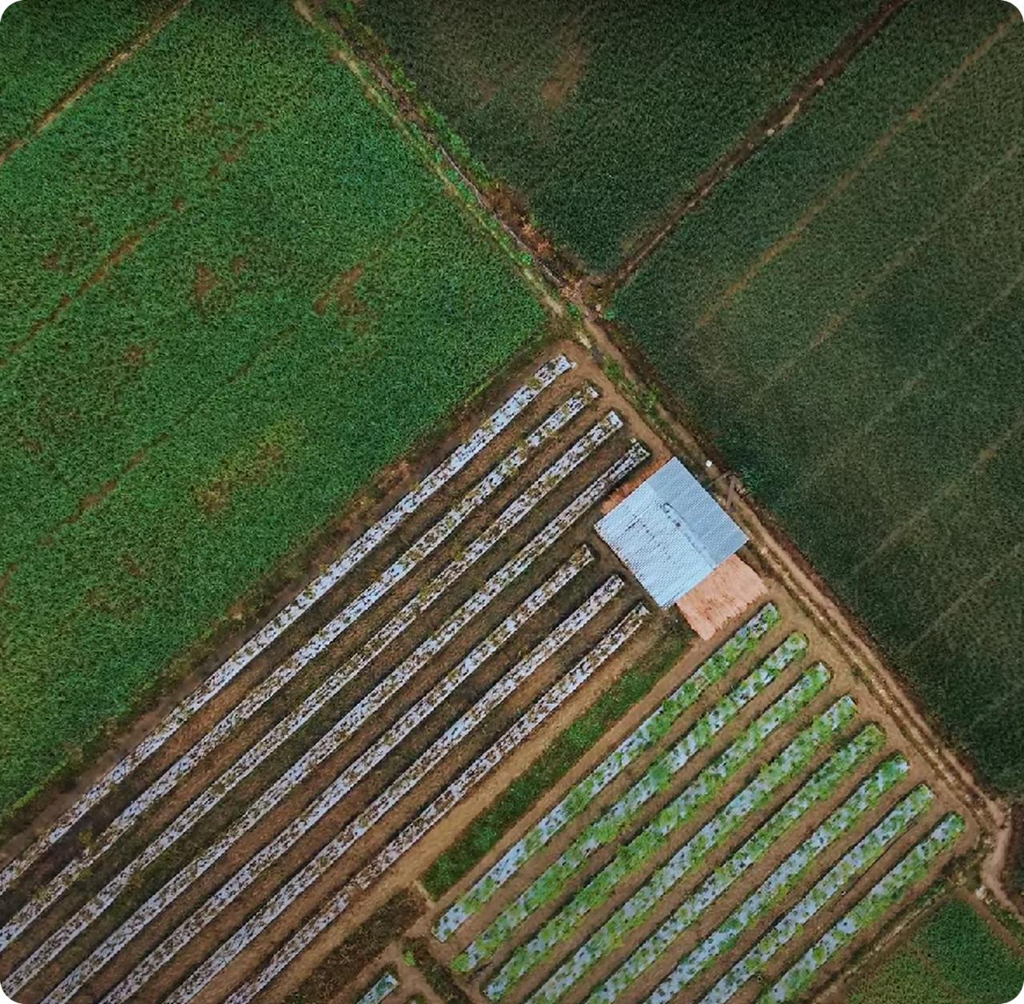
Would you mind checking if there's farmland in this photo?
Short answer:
Yes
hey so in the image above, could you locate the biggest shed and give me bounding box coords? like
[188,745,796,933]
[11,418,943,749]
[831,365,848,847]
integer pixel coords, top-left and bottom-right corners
[593,454,771,643]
